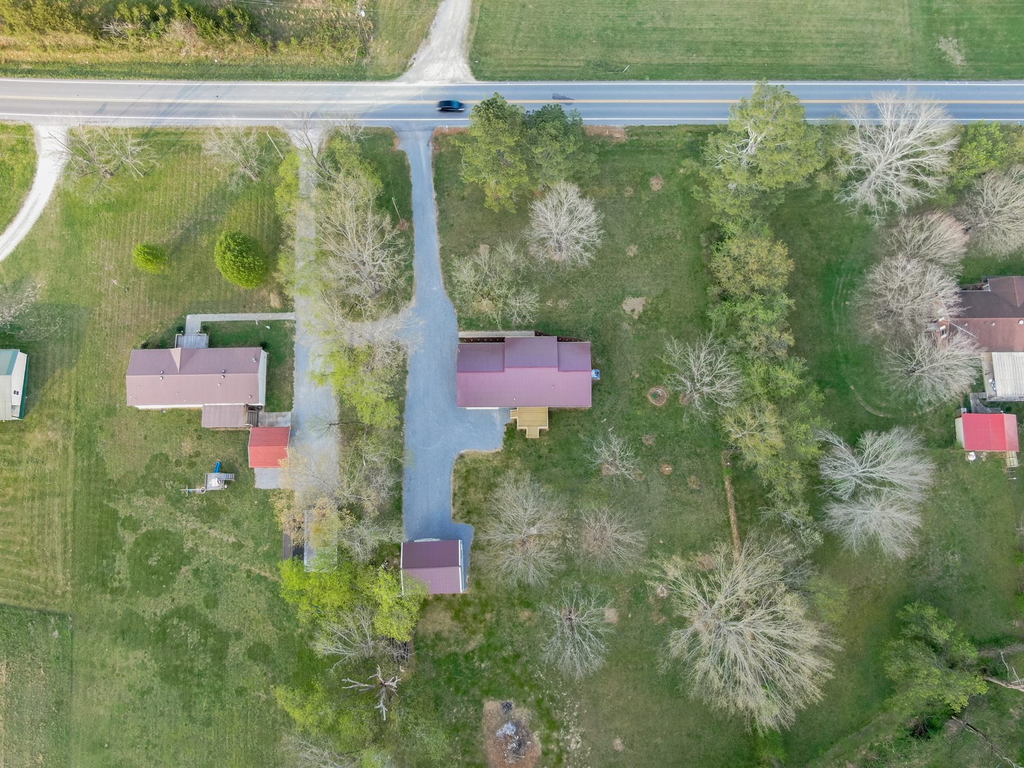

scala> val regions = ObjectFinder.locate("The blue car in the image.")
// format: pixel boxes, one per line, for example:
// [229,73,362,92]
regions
[438,98,464,111]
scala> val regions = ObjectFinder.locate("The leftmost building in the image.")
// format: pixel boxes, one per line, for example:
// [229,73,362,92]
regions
[0,349,32,421]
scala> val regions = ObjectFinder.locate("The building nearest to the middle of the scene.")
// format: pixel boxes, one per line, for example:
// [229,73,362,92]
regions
[457,336,592,409]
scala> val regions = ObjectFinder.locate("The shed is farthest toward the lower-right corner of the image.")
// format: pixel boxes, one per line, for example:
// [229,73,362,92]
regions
[948,409,1020,452]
